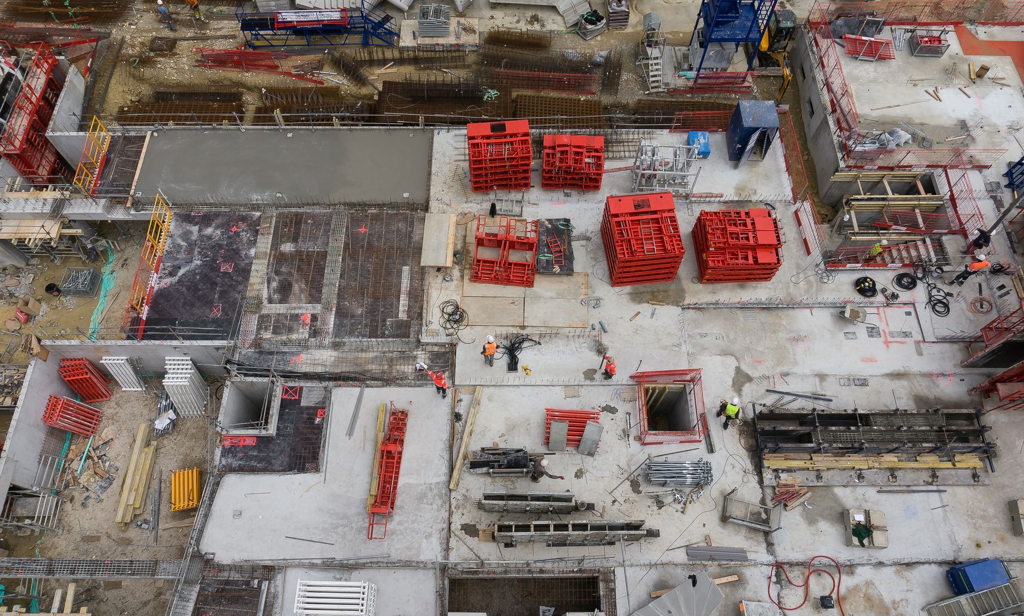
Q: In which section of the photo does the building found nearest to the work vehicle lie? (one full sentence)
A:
The building found nearest to the work vehicle is in the top right part of the image.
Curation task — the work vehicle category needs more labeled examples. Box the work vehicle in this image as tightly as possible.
[753,8,798,99]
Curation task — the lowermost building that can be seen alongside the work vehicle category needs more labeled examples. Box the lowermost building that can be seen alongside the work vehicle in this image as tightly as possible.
[723,100,784,180]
